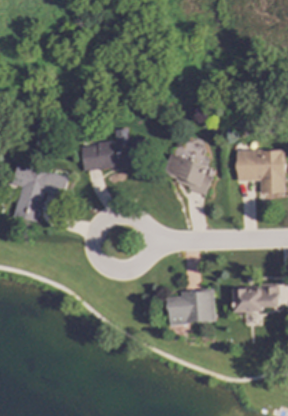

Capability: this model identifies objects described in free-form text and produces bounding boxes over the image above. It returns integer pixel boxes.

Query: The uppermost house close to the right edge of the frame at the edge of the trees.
[238,149,288,196]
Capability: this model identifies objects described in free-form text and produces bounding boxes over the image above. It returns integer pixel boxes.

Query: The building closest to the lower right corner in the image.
[237,286,280,316]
